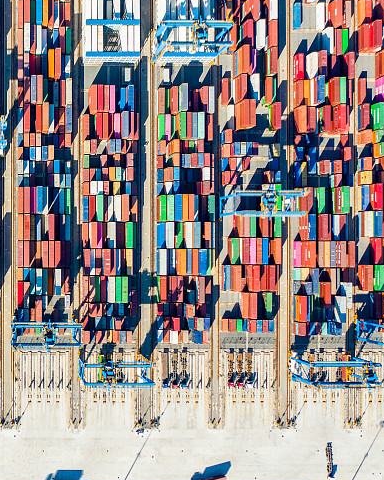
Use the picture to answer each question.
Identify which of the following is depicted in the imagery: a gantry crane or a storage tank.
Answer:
gantry crane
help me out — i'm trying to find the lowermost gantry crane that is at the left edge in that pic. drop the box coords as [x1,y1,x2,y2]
[12,310,85,353]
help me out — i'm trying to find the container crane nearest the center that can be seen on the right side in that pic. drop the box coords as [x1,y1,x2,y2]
[215,184,301,224]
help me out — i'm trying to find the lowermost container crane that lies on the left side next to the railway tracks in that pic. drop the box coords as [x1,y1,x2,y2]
[78,348,156,394]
